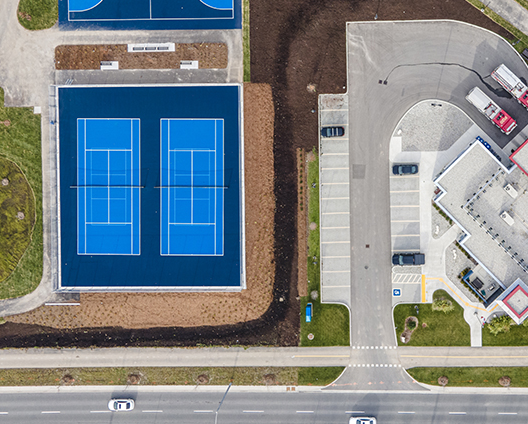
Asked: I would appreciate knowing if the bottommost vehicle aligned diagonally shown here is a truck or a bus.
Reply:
truck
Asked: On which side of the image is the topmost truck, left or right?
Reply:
right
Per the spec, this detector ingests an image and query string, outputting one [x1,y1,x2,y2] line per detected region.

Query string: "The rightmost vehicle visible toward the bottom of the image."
[392,252,426,267]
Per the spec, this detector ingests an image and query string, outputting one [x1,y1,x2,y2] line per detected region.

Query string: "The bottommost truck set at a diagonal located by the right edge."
[465,89,515,137]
